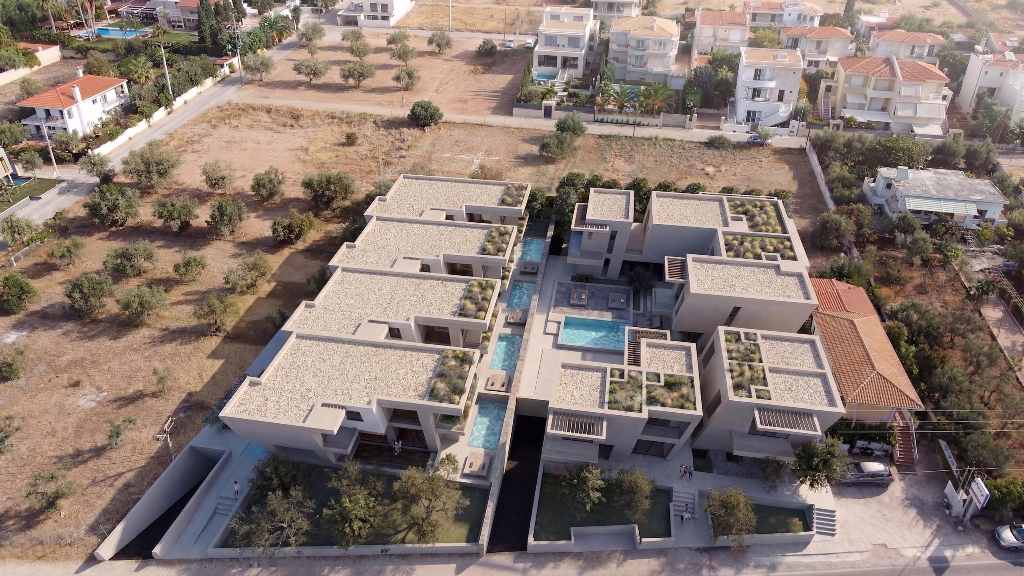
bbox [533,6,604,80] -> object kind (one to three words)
house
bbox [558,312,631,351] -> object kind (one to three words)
swimming pool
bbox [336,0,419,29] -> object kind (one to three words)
house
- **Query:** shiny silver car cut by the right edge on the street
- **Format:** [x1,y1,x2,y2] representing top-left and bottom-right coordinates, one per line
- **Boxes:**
[999,522,1024,552]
